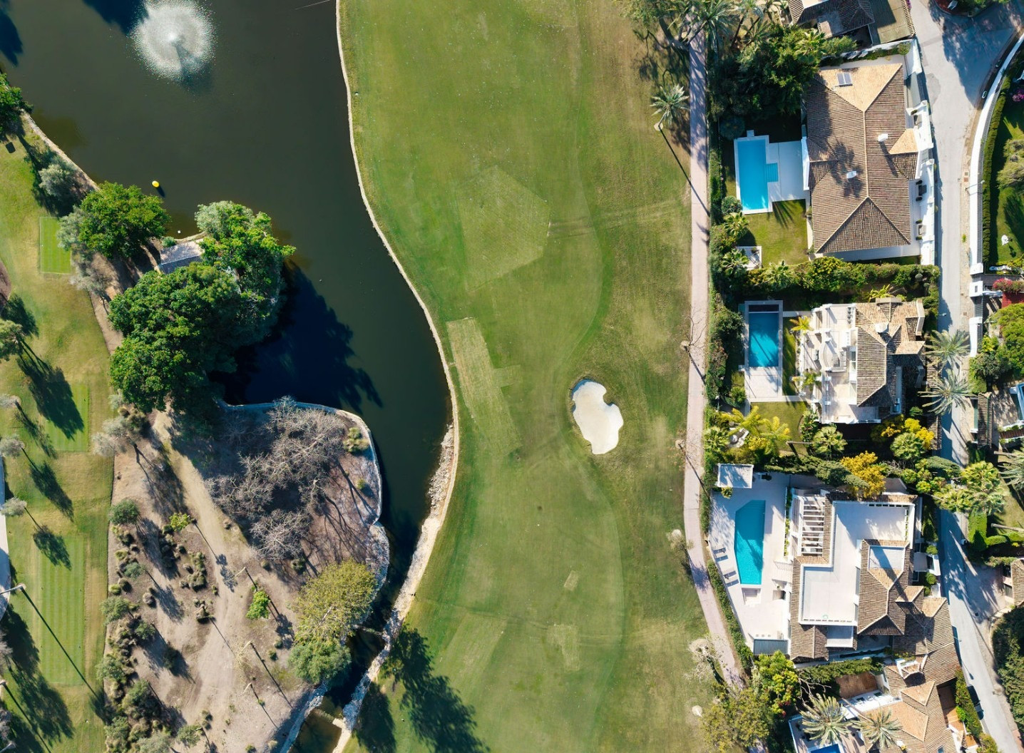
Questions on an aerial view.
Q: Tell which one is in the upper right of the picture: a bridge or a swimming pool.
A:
swimming pool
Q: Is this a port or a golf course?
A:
golf course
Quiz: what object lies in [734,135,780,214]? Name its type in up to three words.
swimming pool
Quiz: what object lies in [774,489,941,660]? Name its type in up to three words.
house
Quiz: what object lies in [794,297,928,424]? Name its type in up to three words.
house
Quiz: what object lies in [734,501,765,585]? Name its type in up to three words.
swimming pool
